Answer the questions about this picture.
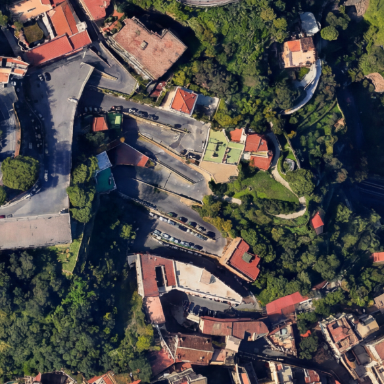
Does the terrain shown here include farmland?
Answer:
No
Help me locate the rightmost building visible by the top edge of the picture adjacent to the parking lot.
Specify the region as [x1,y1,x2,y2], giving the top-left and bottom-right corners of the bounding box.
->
[106,8,191,83]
